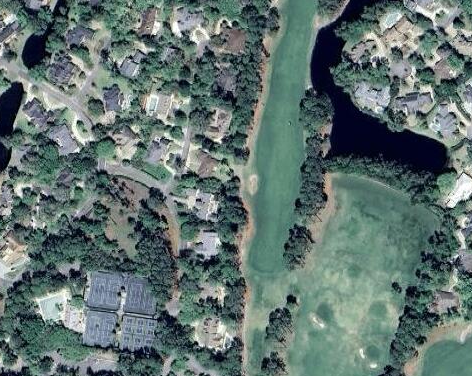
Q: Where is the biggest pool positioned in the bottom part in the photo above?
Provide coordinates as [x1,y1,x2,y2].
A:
[37,292,71,323]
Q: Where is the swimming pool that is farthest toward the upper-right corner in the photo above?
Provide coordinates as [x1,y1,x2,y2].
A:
[382,11,403,29]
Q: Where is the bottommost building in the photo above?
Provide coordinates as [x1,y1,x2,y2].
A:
[200,320,226,345]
